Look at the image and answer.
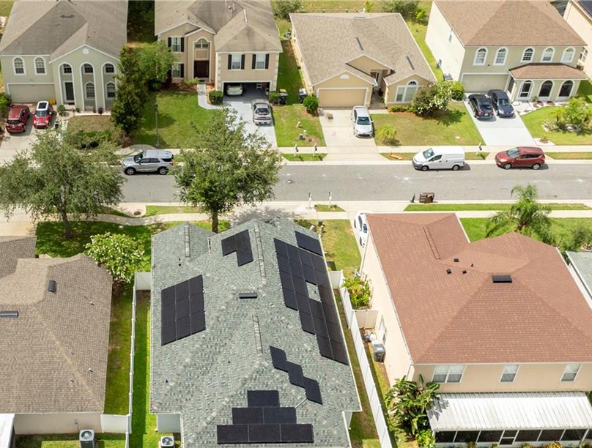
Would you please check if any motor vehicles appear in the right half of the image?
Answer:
Yes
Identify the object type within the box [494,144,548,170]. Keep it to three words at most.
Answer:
car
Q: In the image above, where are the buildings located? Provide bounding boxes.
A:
[424,0,589,117]
[0,237,113,448]
[149,214,363,448]
[0,0,129,142]
[155,0,284,117]
[290,11,436,112]
[363,213,592,448]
